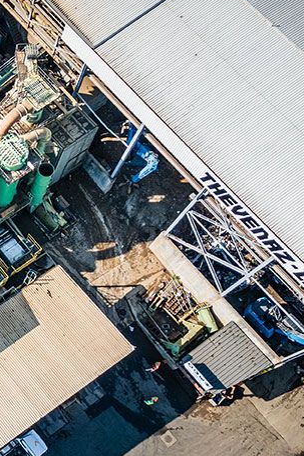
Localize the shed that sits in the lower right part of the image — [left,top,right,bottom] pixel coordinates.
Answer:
[176,322,274,393]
